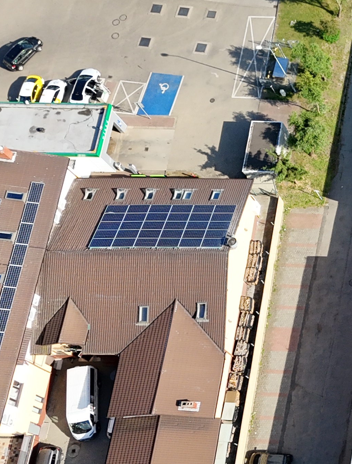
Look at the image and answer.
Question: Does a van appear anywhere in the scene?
Yes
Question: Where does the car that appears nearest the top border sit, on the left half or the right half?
left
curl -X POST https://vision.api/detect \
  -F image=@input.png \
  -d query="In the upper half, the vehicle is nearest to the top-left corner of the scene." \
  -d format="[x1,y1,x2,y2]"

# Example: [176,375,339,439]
[0,36,44,74]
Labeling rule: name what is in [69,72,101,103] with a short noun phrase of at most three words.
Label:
car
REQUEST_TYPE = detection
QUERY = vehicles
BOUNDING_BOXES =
[69,72,101,103]
[246,449,298,464]
[64,368,99,438]
[35,447,63,464]
[102,390,123,439]
[0,36,44,74]
[40,79,69,102]
[14,74,45,102]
